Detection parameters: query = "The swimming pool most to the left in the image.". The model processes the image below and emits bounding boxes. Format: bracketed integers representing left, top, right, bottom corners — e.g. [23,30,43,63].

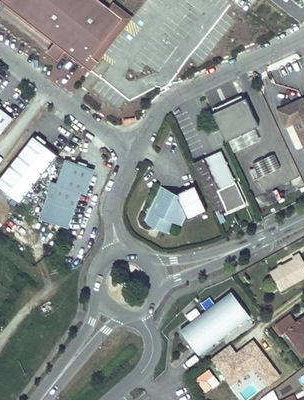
[230,370,268,400]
